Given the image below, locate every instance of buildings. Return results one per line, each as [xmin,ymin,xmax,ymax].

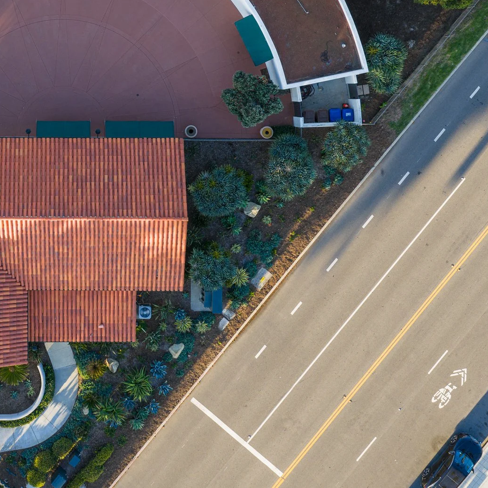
[0,120,190,368]
[233,0,368,95]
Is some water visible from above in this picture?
No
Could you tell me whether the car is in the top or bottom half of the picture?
bottom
